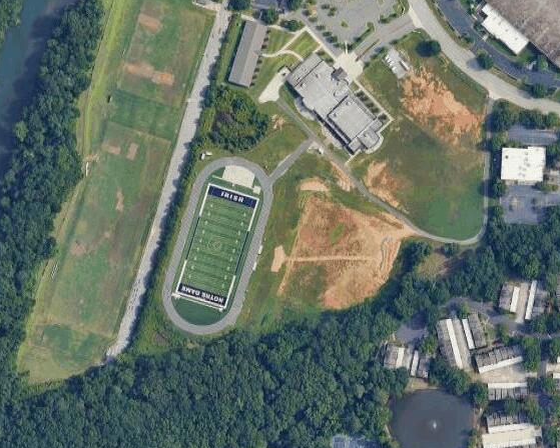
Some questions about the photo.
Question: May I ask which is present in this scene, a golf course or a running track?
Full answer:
I can see a running track in this picture.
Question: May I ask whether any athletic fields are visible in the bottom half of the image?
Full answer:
Yes, you'll find an athletic field in the bottom half of the image.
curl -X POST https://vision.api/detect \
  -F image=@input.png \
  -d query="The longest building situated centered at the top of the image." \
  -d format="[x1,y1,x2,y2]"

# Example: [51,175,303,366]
[287,53,382,154]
